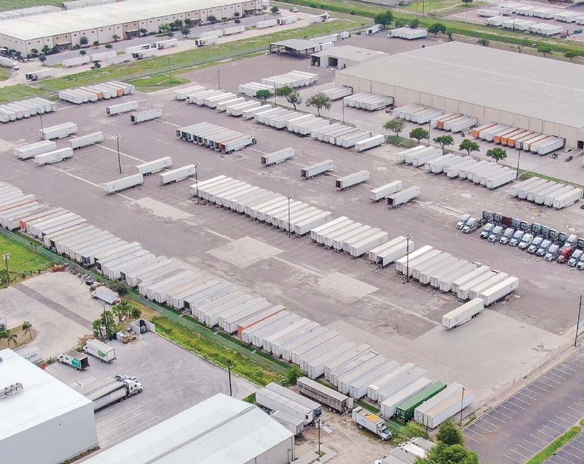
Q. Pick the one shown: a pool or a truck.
truck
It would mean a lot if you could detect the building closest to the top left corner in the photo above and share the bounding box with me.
[0,0,262,57]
